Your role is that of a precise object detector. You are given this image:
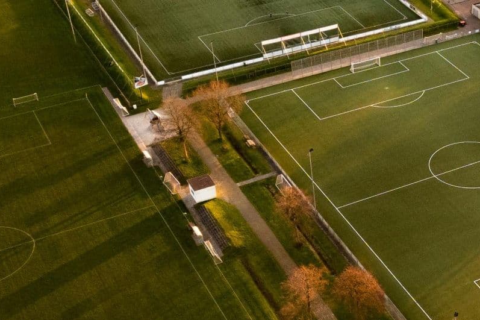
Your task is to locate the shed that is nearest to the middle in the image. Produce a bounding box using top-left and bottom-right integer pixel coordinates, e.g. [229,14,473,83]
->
[185,172,217,202]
